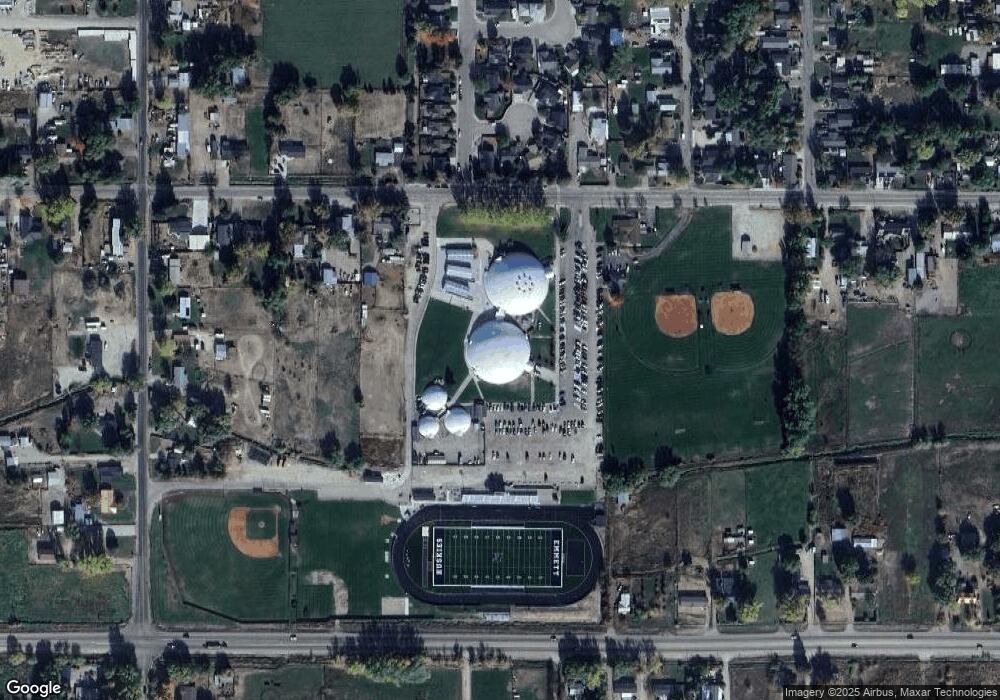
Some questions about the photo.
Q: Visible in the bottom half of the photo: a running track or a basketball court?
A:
running track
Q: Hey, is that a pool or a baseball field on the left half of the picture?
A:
baseball field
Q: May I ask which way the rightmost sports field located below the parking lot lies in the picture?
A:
from side to side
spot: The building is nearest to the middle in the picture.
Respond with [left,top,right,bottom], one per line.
[465,311,535,384]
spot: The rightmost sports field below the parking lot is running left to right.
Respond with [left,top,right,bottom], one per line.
[405,520,592,595]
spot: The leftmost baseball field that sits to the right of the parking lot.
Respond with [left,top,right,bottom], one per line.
[617,262,704,376]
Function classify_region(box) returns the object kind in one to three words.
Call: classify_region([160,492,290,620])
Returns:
baseball field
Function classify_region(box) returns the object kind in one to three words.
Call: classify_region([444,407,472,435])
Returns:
building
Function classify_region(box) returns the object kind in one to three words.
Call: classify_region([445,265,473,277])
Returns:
greenhouse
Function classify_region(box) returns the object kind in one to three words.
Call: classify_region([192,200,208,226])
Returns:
barn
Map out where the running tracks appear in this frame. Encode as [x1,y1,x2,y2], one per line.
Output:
[392,505,604,604]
